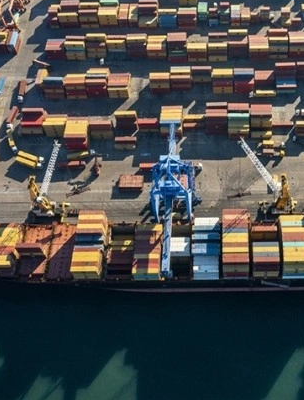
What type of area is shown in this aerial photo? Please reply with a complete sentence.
It's a port.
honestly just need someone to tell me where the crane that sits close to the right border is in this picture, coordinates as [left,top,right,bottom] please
[228,138,303,215]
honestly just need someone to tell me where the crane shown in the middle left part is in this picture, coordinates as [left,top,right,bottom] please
[29,140,64,216]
